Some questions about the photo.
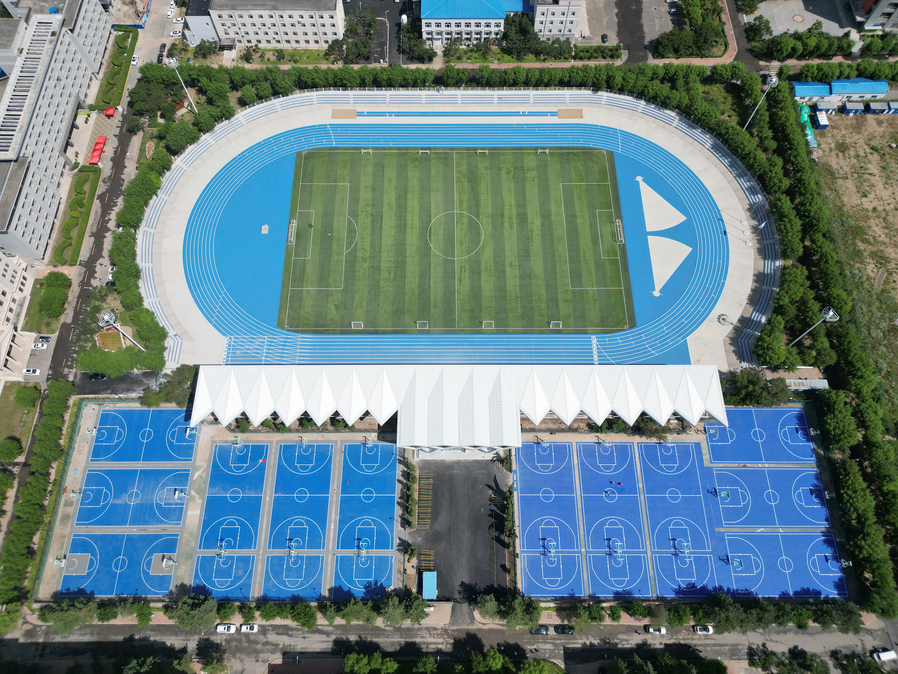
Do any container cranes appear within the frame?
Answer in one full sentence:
No, the picture doesn't show any container crane.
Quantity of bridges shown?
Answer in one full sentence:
The photo contains no bridges.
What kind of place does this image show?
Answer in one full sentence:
The picture captures a sports ground.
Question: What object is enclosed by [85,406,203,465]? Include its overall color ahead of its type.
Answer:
blue basketball court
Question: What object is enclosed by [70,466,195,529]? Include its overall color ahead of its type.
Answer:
blue basketball court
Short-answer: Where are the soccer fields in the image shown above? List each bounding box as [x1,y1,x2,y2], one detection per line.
[277,147,636,334]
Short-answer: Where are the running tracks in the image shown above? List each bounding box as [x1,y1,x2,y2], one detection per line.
[182,124,729,365]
